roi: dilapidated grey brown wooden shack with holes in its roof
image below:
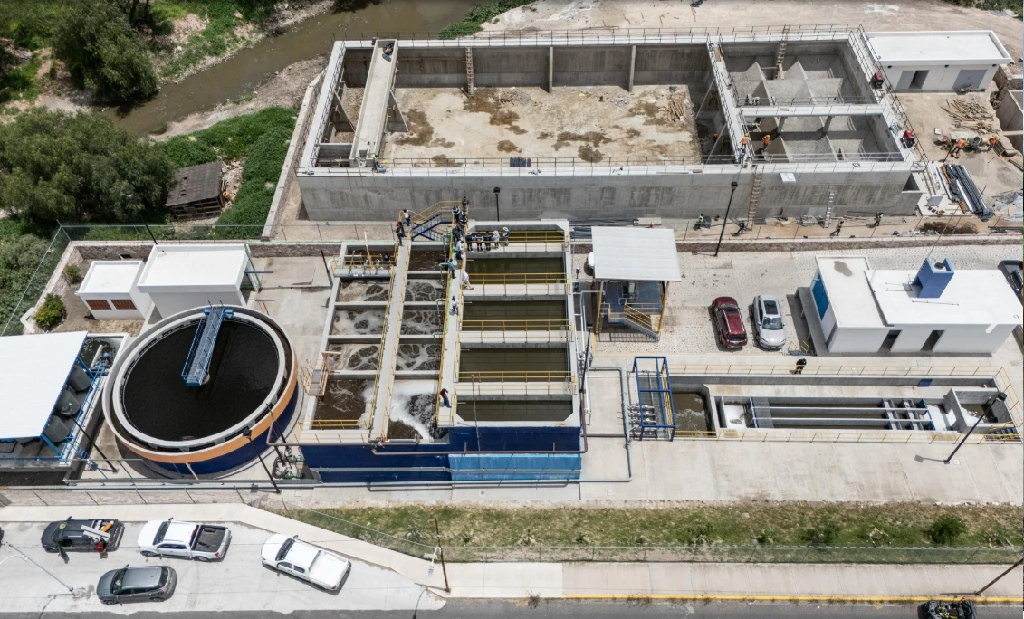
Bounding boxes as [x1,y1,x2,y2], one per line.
[166,160,225,216]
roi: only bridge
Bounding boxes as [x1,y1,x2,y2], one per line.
[183,296,242,386]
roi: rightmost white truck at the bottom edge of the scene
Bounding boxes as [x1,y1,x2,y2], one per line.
[258,537,350,597]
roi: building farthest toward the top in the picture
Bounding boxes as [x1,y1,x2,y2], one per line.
[870,29,1017,95]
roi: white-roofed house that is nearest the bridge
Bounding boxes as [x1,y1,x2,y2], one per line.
[137,241,253,316]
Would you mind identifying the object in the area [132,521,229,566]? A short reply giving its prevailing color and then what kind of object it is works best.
white truck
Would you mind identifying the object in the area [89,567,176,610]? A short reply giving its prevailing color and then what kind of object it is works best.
gray car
